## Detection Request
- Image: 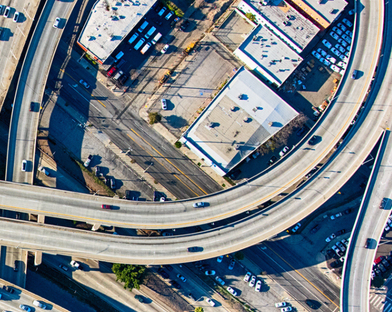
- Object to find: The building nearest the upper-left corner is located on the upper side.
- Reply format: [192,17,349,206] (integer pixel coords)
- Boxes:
[74,0,156,65]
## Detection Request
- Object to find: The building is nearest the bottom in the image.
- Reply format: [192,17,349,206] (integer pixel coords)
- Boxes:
[173,68,299,175]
